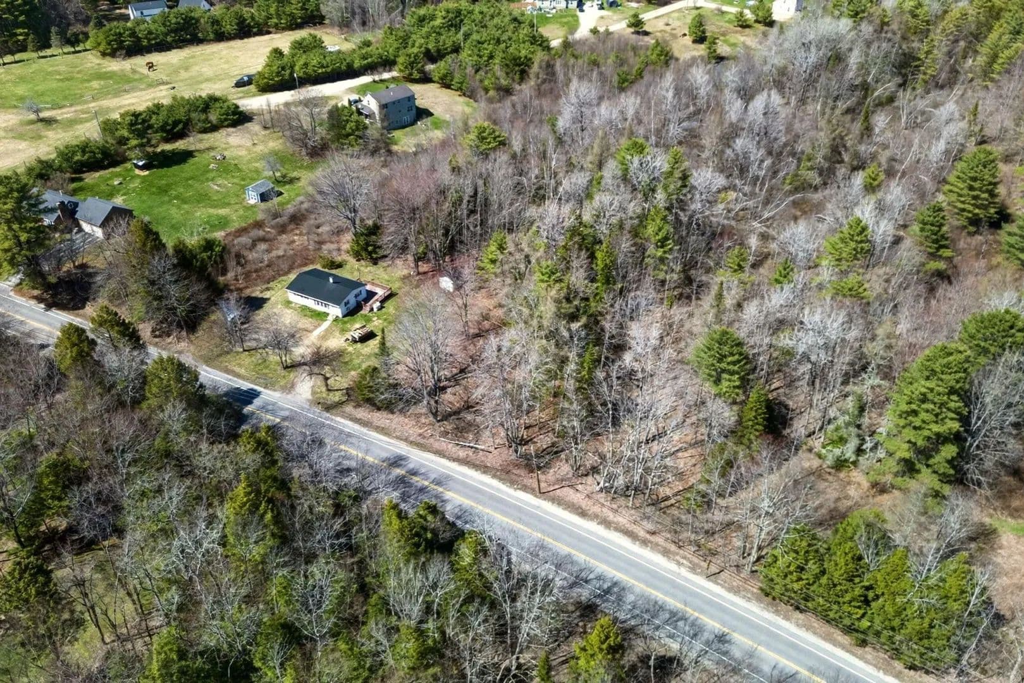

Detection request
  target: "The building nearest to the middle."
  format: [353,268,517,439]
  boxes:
[283,267,390,321]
